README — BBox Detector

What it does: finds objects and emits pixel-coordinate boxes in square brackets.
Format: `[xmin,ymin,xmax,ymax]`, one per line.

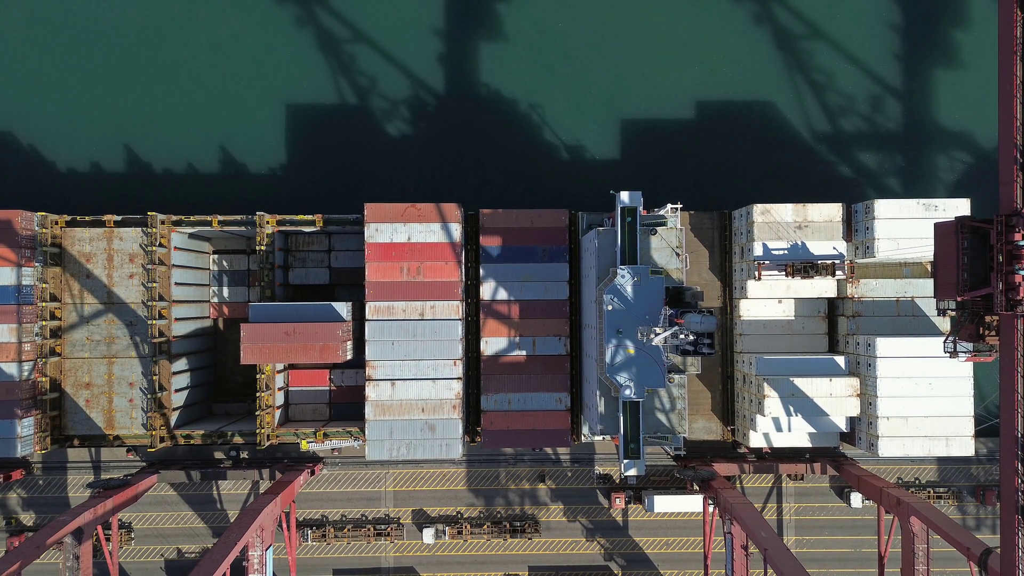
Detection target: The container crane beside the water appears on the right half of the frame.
[666,0,1024,576]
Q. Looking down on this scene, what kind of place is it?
port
